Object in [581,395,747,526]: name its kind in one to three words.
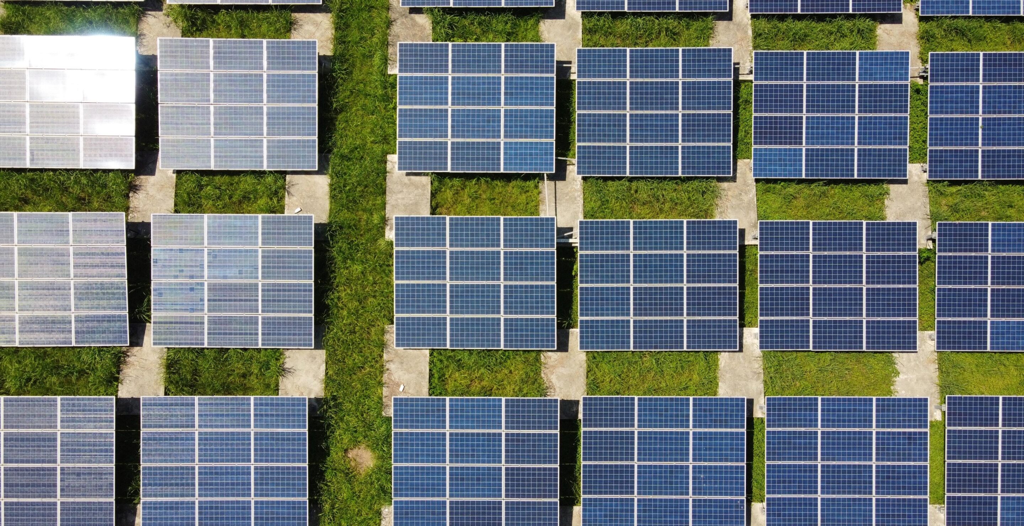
solar array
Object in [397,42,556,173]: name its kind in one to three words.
solar array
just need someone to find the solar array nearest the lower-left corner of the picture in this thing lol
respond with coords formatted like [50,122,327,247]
[0,395,130,526]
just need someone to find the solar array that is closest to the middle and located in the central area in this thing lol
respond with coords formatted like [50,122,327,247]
[394,216,557,349]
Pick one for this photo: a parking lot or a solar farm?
solar farm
